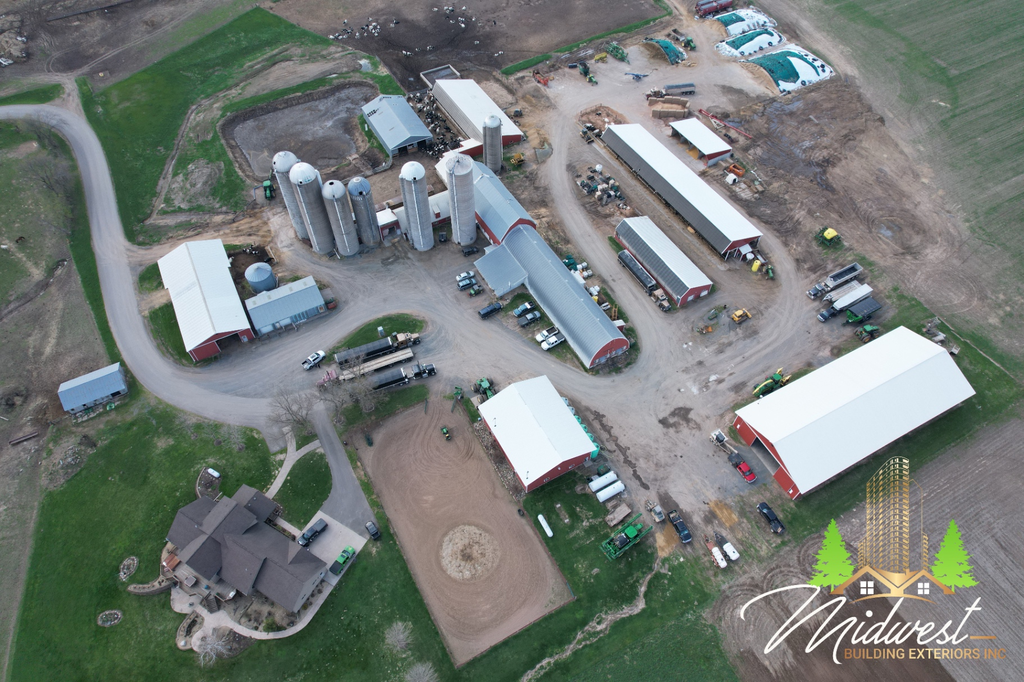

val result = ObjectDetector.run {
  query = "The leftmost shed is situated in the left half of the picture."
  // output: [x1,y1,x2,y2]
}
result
[58,361,130,416]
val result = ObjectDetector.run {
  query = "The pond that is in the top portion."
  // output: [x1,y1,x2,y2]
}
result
[235,86,370,176]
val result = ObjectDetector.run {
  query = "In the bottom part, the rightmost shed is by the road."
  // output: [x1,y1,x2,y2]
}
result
[730,327,977,499]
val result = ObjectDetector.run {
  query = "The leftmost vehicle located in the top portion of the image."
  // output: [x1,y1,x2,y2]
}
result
[263,181,276,202]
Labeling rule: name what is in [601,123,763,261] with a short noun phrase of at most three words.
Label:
barn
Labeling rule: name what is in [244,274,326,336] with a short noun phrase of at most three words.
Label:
shed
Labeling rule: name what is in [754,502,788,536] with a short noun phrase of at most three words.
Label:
truck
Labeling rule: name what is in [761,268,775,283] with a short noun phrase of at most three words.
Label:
work vehicle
